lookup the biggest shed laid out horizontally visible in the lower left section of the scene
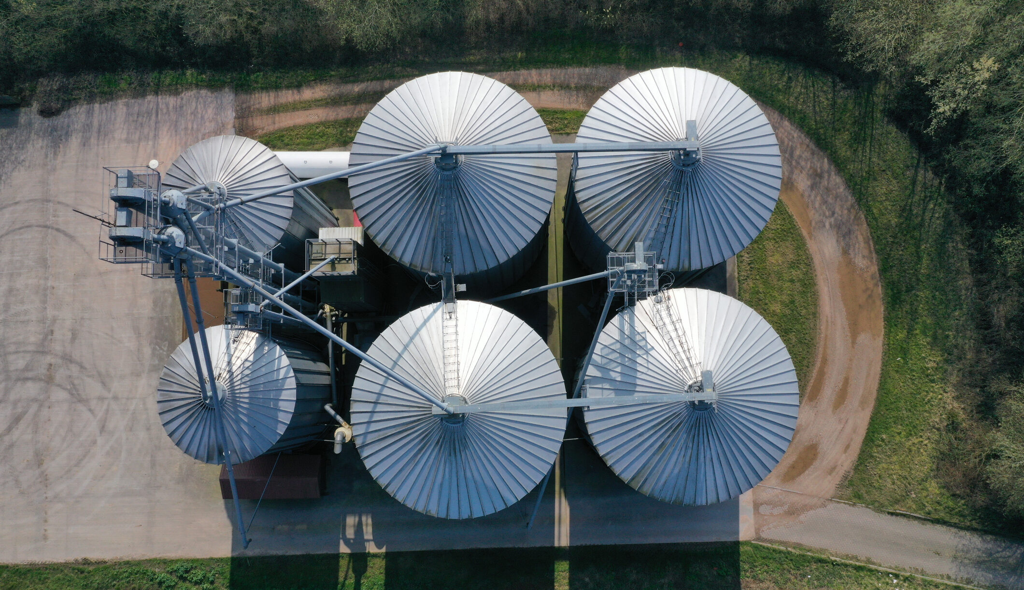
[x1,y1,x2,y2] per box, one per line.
[216,448,329,499]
